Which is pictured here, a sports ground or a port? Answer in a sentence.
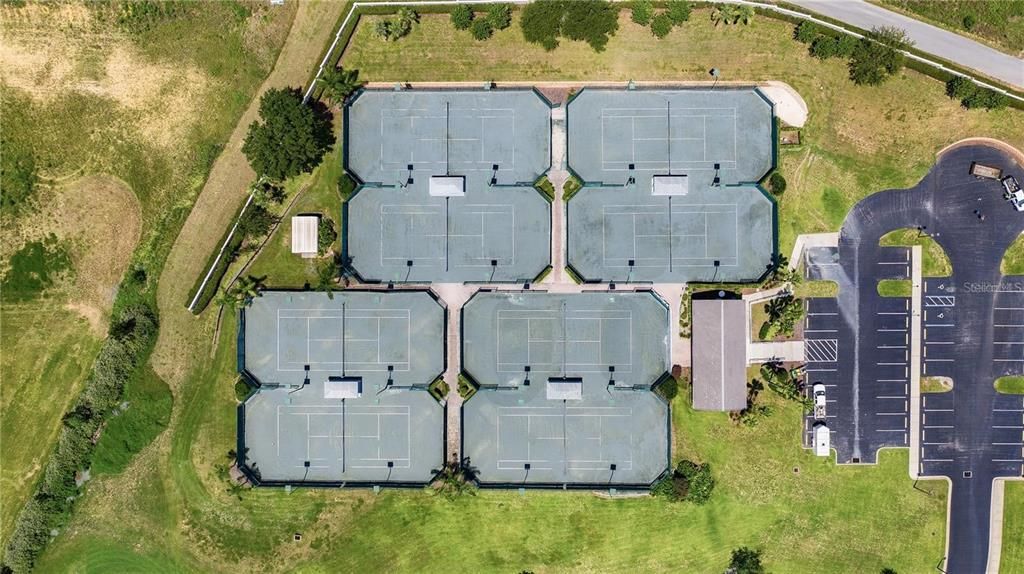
The picture captures a sports ground.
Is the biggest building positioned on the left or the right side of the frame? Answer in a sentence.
The biggest building sits on the right side.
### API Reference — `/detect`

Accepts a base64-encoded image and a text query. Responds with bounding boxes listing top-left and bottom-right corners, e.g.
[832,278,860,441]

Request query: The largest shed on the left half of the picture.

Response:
[293,217,321,260]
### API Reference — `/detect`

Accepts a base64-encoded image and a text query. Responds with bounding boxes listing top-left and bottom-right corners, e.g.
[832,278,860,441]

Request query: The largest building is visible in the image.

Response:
[690,300,747,412]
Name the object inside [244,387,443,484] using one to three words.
tennis court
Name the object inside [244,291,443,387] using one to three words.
tennis court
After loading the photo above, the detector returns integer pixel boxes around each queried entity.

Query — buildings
[293,217,321,260]
[690,300,747,412]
